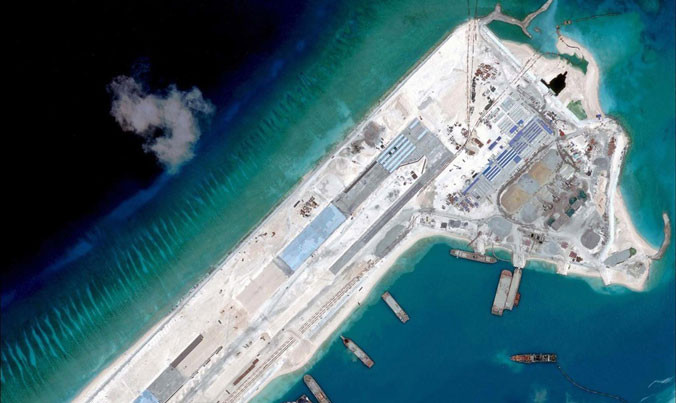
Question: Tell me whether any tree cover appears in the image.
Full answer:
No, no tree cover is visible.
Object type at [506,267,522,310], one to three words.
ship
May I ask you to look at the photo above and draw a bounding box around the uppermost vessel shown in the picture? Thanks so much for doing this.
[450,249,497,263]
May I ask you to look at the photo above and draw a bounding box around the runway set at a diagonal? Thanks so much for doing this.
[127,118,456,403]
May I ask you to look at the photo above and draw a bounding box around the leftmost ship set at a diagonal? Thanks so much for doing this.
[303,375,330,403]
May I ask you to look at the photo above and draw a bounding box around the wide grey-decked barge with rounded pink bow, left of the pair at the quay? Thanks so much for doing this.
[492,271,512,315]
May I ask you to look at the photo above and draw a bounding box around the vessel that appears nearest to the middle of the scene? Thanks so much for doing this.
[382,292,409,322]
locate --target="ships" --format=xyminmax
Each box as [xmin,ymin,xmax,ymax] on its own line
[492,271,512,315]
[506,267,522,310]
[303,375,330,403]
[510,355,557,362]
[382,292,409,322]
[450,249,497,263]
[341,336,372,367]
